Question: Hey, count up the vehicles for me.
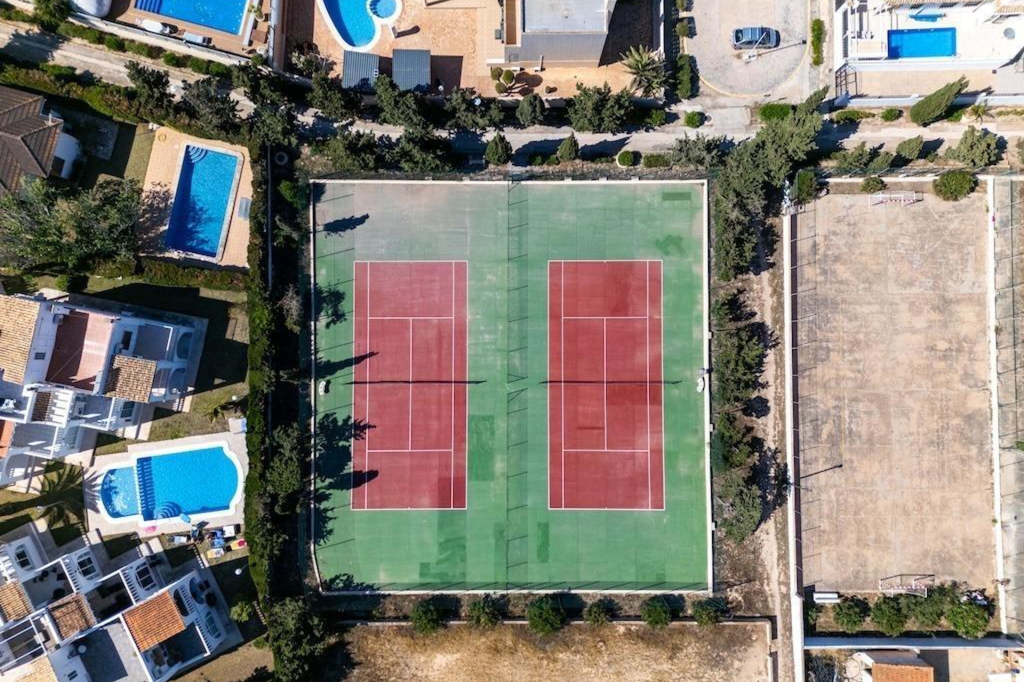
1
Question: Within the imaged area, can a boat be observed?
No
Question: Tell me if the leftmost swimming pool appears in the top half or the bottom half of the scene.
bottom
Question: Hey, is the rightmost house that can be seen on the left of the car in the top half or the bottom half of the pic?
top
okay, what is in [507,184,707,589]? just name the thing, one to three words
tennis court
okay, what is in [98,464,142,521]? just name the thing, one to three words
swimming pool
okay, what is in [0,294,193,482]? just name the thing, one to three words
house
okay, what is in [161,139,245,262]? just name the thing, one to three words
swimming pool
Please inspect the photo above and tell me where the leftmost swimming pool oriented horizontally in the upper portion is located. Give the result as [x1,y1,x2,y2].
[131,0,249,38]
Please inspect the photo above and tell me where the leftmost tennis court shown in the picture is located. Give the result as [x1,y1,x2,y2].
[314,184,508,593]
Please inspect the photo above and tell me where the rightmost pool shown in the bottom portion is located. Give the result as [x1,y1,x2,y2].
[134,443,242,525]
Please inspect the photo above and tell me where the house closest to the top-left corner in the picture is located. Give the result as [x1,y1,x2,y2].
[0,88,86,193]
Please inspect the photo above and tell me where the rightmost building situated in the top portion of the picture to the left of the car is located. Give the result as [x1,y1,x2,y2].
[487,0,608,72]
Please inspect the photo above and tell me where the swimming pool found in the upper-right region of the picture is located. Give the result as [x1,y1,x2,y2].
[885,24,960,61]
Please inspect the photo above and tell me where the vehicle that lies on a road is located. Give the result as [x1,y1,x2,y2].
[733,24,778,49]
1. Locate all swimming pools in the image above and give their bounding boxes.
[131,0,249,38]
[885,24,960,61]
[98,464,142,521]
[161,139,245,262]
[134,443,242,525]
[311,0,379,51]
